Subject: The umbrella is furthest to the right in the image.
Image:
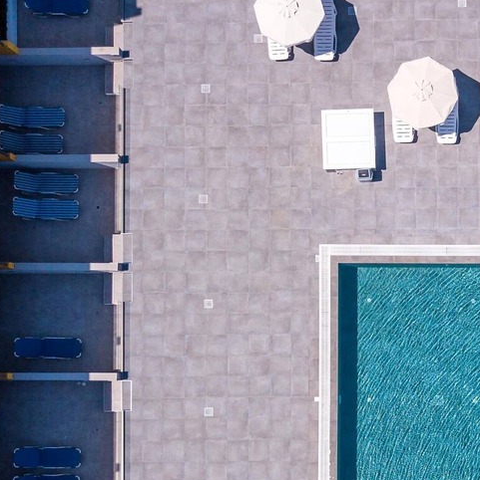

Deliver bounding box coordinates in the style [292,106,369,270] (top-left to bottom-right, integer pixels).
[387,57,459,130]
